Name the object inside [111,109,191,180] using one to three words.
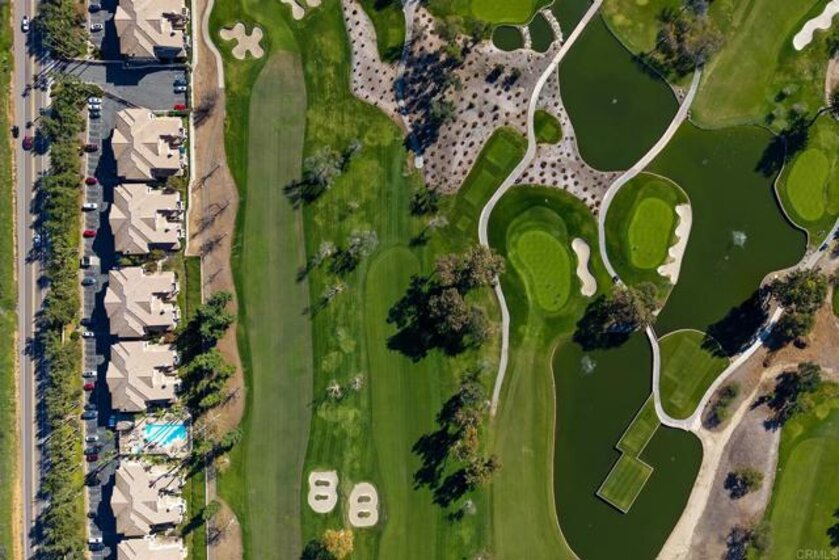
building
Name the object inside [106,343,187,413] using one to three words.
building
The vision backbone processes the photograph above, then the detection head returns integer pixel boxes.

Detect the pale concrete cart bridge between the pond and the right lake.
[635,101,693,172]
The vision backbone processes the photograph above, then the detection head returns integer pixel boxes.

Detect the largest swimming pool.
[118,414,193,457]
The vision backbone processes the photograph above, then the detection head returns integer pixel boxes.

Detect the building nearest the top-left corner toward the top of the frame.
[114,0,194,61]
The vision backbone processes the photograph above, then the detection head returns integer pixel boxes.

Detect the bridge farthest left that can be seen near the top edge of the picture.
[557,0,607,60]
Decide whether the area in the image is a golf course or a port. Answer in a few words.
golf course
